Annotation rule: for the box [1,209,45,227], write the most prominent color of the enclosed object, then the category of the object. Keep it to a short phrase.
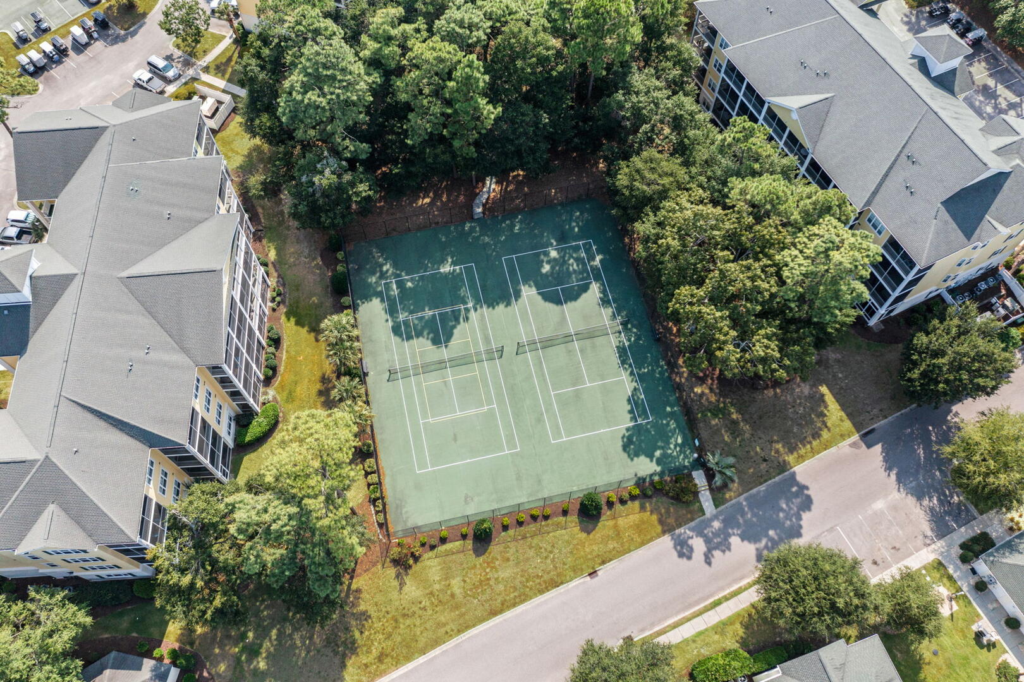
white car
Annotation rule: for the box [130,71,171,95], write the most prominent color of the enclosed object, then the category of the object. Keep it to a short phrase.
white truck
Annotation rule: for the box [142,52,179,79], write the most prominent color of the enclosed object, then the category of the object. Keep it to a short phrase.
white car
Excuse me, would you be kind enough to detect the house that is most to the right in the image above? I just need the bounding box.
[965,532,1024,645]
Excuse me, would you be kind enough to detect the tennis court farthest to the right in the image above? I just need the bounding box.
[478,196,695,501]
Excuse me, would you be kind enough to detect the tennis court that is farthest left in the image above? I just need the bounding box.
[346,220,550,537]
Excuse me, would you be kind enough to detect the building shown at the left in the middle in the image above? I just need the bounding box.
[0,88,266,577]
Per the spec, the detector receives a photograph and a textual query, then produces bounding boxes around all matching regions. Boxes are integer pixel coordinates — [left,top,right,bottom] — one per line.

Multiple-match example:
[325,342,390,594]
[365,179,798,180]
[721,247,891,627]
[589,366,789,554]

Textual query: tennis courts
[346,220,550,537]
[478,196,695,501]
